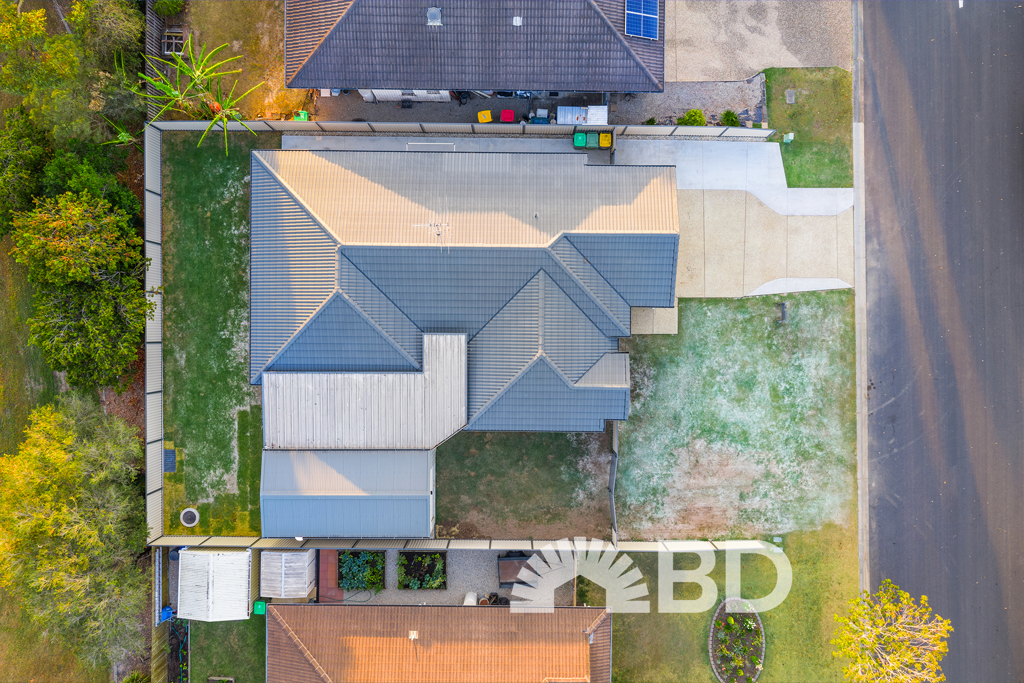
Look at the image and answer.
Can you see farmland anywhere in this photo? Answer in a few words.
No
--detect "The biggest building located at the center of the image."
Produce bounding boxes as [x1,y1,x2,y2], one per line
[248,148,681,434]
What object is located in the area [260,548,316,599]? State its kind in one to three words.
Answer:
shed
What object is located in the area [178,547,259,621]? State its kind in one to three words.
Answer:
shed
